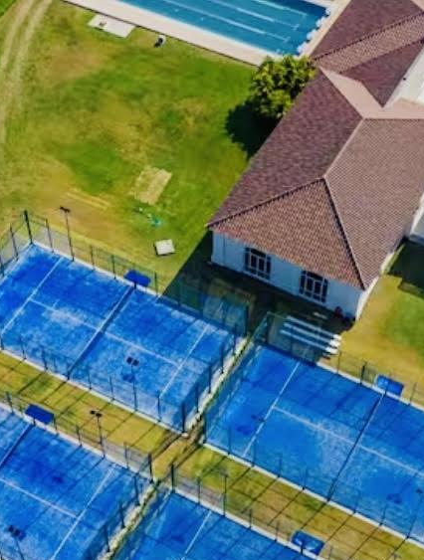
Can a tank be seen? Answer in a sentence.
No, I can see no tank in this picture.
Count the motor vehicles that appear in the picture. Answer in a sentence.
The count of motor vehicles is 0.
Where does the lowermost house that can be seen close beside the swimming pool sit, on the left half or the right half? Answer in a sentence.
It is on the right.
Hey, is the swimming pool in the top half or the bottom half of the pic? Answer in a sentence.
The swimming pool is in the top half of the image.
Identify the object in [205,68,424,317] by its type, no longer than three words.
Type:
house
